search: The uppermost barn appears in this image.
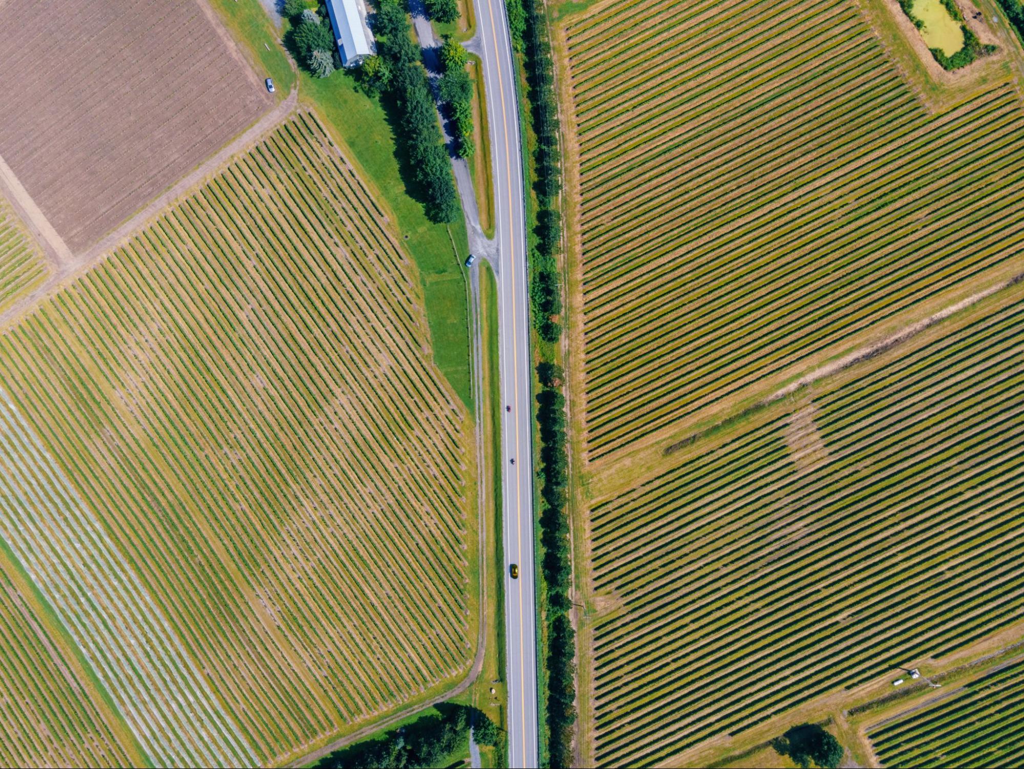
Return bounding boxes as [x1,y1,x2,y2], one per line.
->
[327,0,369,67]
